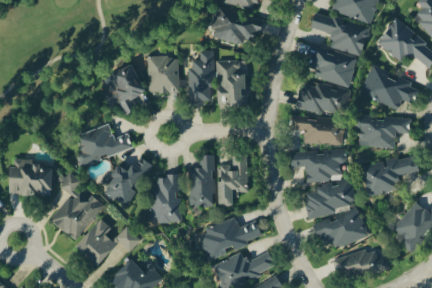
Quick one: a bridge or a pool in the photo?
pool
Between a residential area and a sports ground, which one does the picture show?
residential area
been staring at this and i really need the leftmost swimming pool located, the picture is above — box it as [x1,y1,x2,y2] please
[28,146,58,164]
